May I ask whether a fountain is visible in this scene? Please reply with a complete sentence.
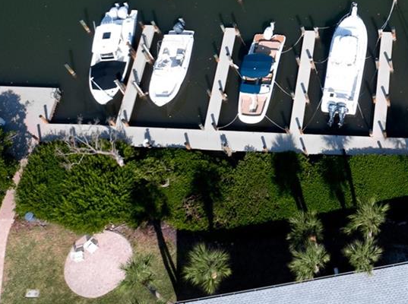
No, there is no fountain in the image.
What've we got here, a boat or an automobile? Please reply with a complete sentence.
The image shows a boat.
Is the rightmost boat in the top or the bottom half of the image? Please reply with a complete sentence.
It is in the top half that the rightmost boat appears.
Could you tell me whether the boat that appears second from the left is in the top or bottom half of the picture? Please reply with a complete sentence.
It is in the top half that the boat that appears second from the left appears.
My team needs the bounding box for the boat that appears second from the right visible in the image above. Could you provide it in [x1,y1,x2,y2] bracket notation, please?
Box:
[241,23,285,125]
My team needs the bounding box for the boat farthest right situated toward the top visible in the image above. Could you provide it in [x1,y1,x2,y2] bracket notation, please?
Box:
[319,2,370,135]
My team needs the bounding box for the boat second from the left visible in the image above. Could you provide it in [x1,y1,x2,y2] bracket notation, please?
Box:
[152,18,197,109]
